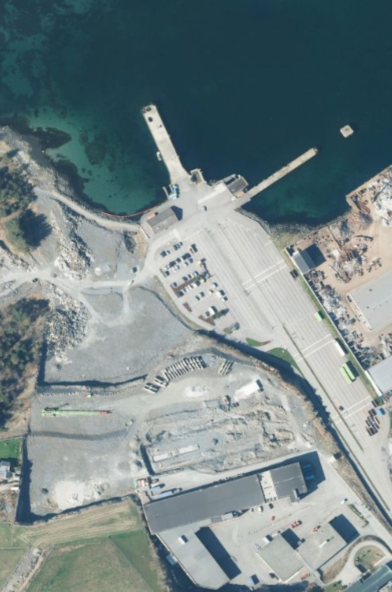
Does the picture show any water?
Yes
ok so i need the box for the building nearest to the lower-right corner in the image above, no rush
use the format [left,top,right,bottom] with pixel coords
[347,567,392,592]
